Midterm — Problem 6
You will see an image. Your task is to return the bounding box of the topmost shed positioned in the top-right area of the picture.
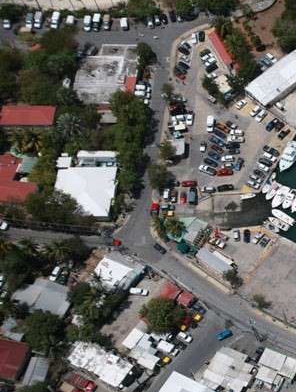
[208,30,232,70]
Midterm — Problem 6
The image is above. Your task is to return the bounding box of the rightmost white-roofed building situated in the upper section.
[245,49,296,111]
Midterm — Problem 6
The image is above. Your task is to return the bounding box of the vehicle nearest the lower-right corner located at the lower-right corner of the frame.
[270,375,285,392]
